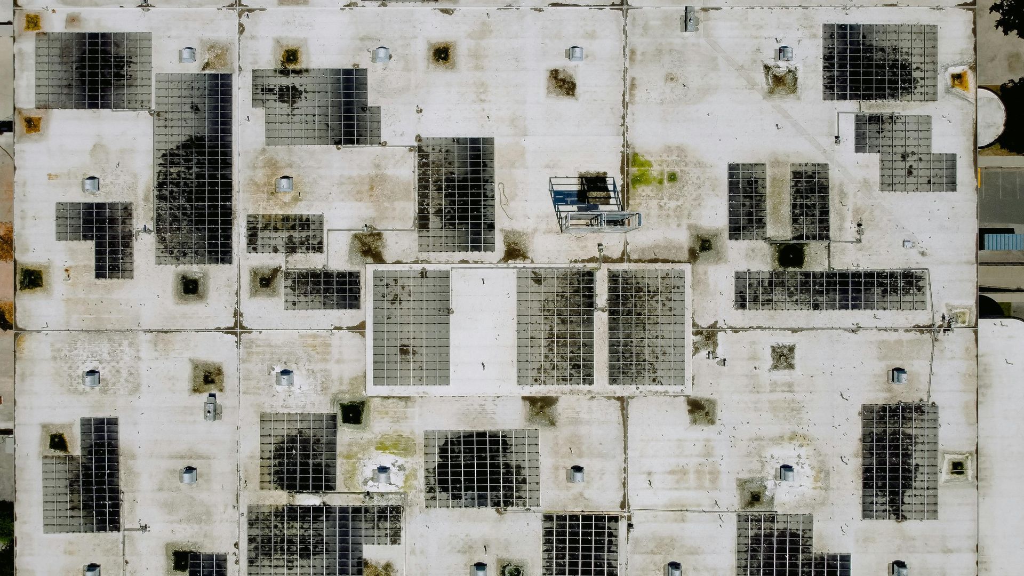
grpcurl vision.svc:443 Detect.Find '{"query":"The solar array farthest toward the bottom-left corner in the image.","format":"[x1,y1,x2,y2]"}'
[41,417,120,533]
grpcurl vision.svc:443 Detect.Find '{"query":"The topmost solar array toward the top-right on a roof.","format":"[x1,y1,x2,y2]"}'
[822,22,940,101]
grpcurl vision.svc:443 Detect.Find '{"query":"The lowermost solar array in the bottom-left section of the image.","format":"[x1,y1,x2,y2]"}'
[188,552,228,576]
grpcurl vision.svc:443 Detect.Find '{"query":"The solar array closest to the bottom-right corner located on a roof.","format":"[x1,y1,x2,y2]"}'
[862,404,941,520]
